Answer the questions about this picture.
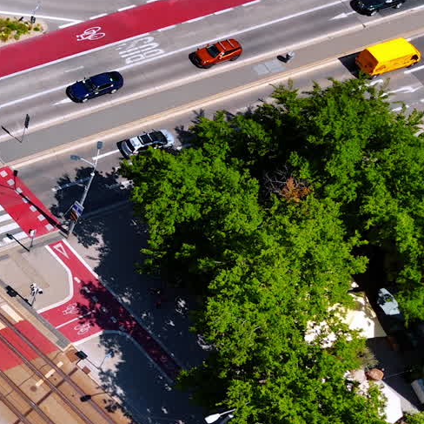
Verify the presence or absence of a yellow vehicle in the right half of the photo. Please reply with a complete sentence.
Yes, I can see a yellow vehicle in the right half of the photo.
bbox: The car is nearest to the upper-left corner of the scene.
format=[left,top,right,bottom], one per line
[68,70,125,102]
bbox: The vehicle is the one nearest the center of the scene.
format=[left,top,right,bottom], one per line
[121,125,178,158]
